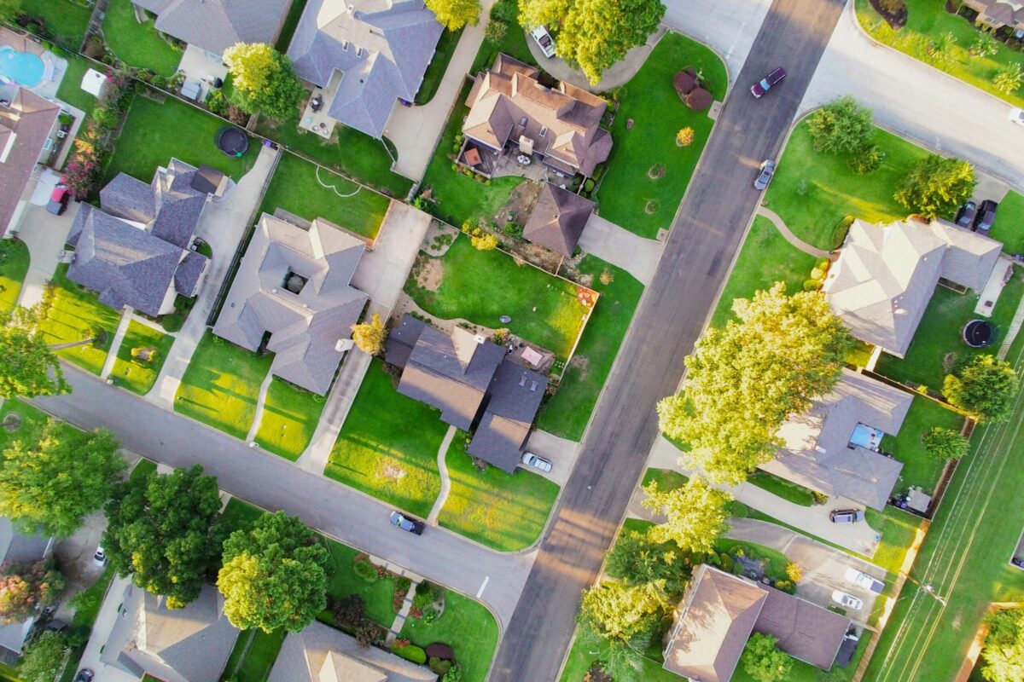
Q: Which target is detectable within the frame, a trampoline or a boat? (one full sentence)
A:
Looking from above, you can make out a trampoline.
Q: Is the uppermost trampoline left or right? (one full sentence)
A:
The uppermost trampoline is on the left side of the image.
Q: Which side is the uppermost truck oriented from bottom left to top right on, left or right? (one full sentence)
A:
The uppermost truck oriented from bottom left to top right is on the right side of the image.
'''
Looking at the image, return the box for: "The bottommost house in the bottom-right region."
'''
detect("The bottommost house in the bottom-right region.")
[662,565,852,682]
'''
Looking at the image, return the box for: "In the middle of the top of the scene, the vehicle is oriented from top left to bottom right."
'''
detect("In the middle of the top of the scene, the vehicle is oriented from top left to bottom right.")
[529,24,557,61]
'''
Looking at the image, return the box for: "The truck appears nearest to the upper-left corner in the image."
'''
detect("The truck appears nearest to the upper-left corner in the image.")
[42,180,66,216]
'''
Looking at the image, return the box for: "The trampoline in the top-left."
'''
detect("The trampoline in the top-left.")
[211,122,250,159]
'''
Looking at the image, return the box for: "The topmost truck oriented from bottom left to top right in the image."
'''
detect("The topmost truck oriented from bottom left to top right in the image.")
[750,66,787,98]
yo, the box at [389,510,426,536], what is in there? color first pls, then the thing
blue truck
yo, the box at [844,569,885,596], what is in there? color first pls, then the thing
white truck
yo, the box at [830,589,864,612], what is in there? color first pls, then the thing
white car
